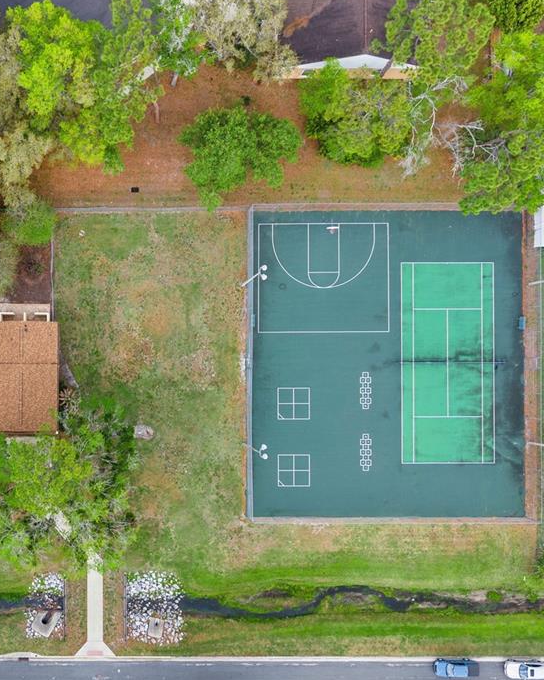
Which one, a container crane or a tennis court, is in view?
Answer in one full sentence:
The one in the frame is a tennis court.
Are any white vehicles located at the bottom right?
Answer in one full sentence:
Yes, a white vehicle can be seen at the bottom right.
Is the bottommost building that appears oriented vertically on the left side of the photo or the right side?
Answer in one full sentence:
The bottommost building that appears oriented vertically appears in the left half of the scene.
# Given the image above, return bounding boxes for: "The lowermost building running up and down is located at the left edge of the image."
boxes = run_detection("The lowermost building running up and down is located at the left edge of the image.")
[0,312,60,437]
